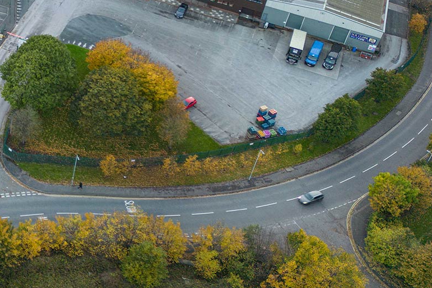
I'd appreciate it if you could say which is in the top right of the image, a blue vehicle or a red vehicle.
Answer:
blue vehicle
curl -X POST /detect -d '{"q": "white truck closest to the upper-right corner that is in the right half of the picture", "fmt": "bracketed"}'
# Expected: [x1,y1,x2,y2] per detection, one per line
[285,31,307,62]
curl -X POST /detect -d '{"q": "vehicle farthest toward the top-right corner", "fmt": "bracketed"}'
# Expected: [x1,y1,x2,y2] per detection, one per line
[323,45,342,64]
